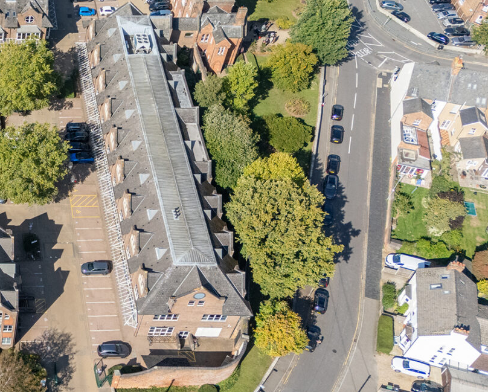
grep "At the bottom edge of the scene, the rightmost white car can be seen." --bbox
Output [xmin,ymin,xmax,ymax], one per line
[393,359,429,376]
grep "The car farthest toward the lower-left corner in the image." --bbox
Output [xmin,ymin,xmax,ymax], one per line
[96,341,128,357]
